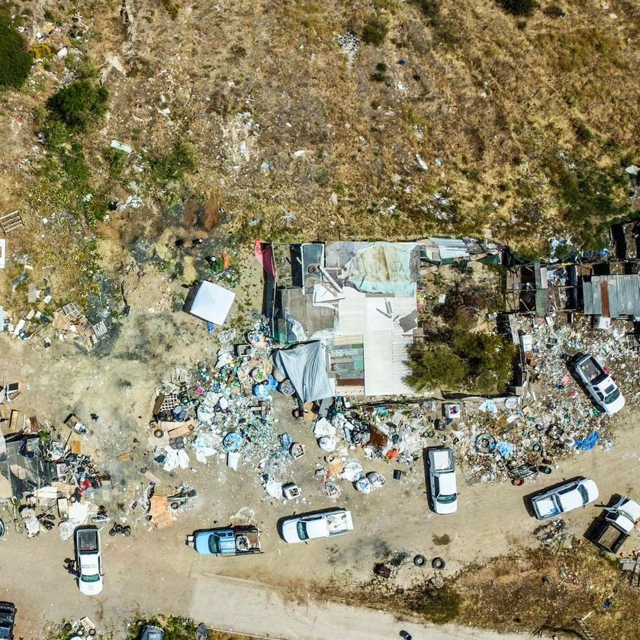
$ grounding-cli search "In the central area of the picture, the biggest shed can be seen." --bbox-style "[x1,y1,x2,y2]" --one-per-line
[275,243,421,397]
